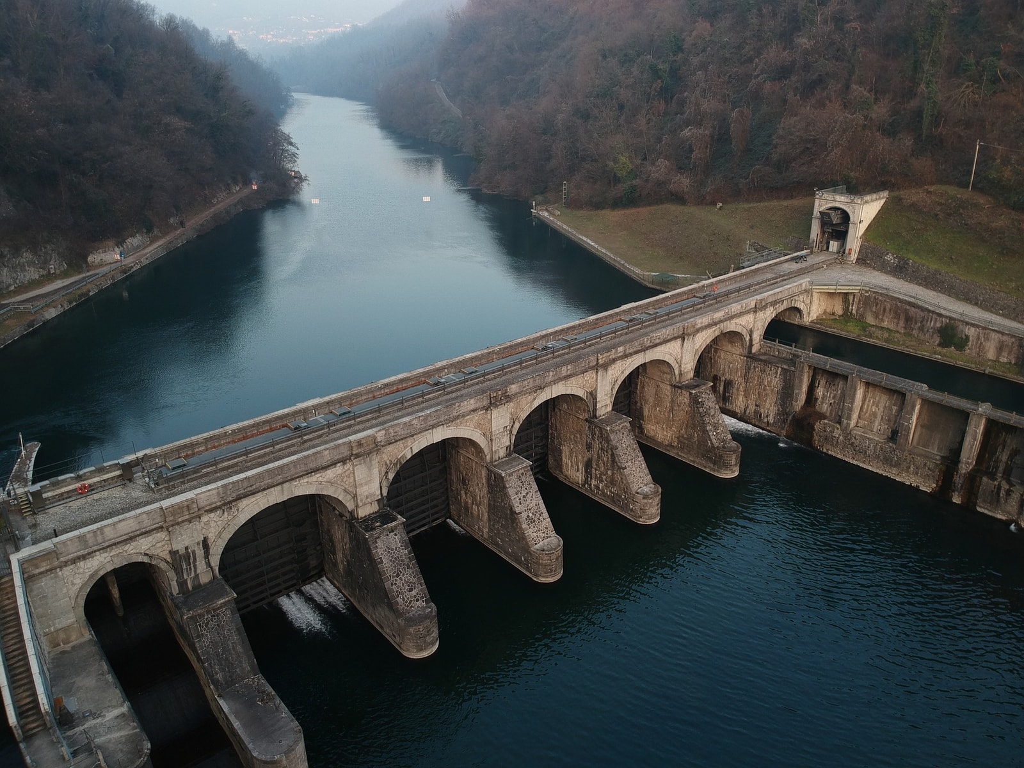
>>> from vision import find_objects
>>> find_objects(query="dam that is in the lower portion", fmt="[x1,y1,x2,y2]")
[0,253,833,768]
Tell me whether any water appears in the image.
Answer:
Yes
